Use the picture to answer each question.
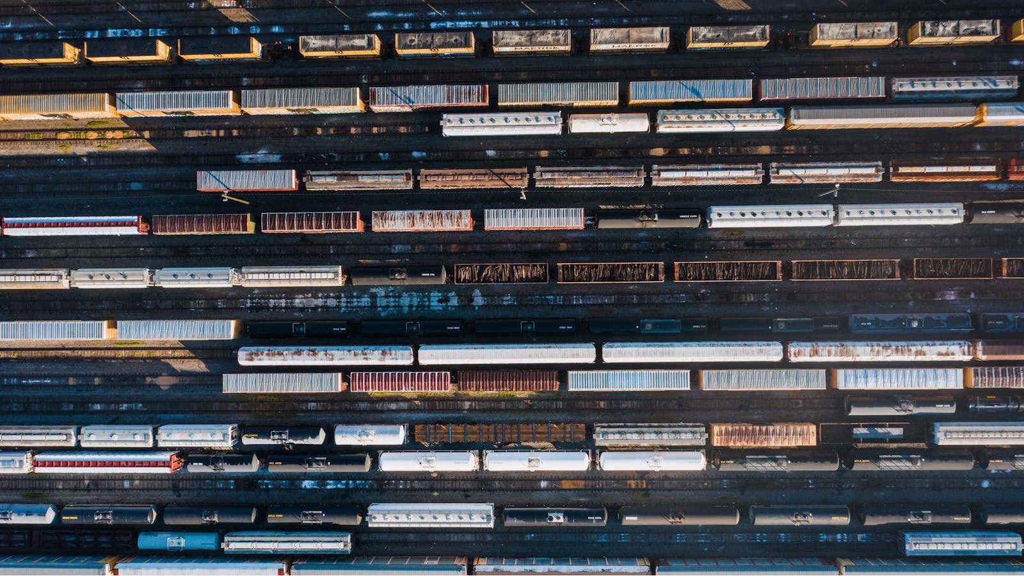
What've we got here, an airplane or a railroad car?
railroad car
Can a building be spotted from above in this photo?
No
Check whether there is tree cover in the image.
No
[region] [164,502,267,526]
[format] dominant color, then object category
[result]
black rail car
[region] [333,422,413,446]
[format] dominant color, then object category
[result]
white rail car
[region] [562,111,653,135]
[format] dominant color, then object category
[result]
white rail car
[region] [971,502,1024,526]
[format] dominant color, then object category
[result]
black rail car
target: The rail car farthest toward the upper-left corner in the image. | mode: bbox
[0,92,121,120]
